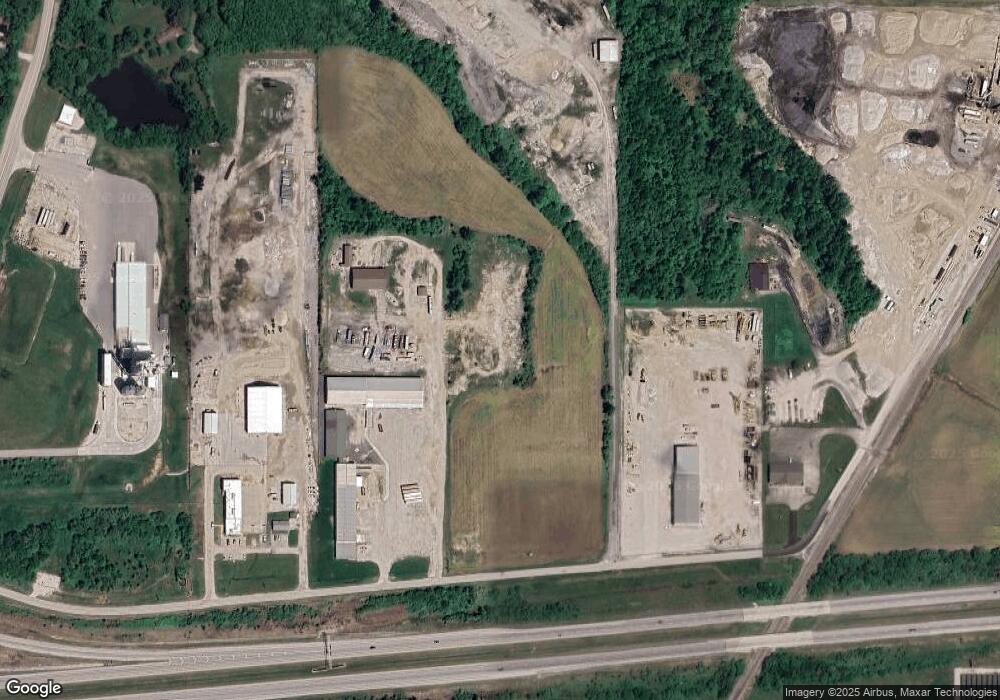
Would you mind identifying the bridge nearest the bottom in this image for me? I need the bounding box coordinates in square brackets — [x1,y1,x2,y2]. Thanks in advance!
[725,632,814,655]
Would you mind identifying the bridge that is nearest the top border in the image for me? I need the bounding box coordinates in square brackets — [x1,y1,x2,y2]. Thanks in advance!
[742,600,832,623]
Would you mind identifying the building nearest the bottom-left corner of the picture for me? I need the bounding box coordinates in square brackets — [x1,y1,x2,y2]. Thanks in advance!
[226,479,241,535]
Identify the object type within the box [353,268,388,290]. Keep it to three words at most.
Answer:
shed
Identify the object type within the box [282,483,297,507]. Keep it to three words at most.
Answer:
building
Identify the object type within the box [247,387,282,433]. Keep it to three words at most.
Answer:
barn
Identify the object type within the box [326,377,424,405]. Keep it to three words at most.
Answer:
building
